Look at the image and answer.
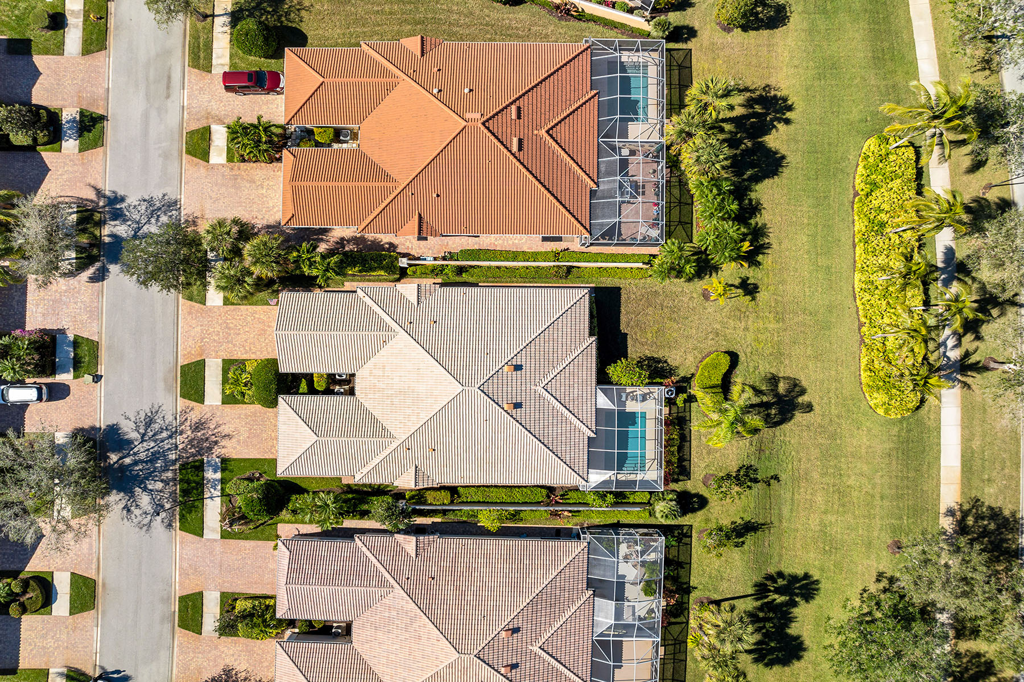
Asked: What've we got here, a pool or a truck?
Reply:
pool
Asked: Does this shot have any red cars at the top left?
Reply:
Yes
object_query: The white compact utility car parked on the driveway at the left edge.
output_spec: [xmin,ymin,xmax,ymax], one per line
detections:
[0,383,50,409]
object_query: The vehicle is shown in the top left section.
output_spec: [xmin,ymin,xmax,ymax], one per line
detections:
[228,70,283,99]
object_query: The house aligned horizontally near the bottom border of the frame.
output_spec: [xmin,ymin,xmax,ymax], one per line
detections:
[276,534,598,682]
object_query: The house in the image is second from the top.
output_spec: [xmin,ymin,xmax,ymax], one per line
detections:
[271,284,596,489]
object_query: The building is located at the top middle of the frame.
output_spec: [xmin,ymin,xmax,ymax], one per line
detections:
[281,35,599,237]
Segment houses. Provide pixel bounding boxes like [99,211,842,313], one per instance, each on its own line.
[271,284,596,489]
[281,35,599,237]
[276,534,598,682]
